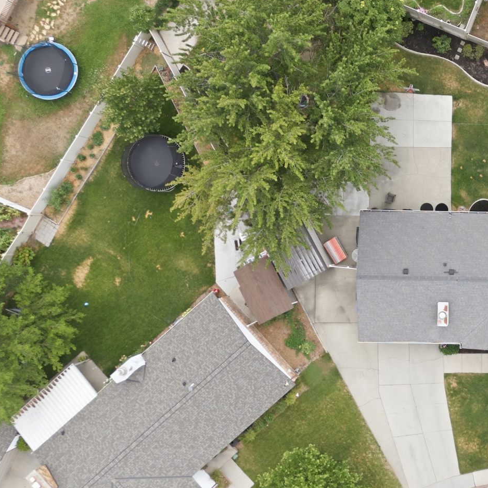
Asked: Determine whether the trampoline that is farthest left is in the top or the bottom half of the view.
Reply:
top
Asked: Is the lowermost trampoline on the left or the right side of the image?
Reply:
left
